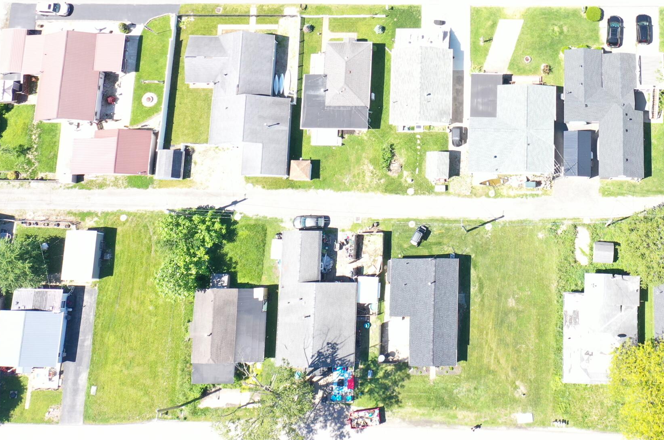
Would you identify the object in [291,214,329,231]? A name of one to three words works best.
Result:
car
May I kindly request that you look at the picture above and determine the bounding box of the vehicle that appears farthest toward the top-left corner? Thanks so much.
[33,0,71,17]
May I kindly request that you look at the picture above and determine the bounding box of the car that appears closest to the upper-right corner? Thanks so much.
[635,12,652,47]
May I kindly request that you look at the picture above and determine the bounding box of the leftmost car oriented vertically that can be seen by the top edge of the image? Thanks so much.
[606,14,623,50]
